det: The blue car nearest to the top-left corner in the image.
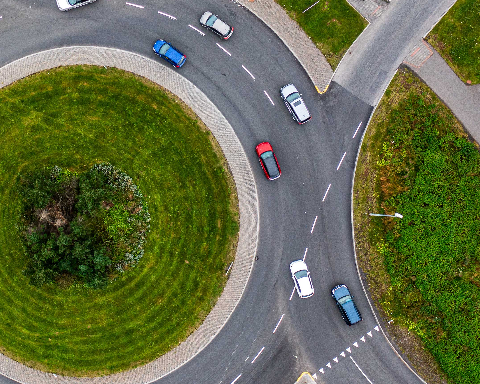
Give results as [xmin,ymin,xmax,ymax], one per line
[151,39,188,69]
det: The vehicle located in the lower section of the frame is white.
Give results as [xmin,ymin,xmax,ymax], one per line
[289,260,314,299]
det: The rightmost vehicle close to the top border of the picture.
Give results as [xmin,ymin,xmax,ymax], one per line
[199,11,235,40]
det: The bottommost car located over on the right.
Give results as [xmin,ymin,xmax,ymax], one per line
[332,284,363,327]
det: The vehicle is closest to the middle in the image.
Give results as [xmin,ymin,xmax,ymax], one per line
[256,141,283,182]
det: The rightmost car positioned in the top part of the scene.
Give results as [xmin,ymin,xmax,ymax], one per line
[280,82,312,124]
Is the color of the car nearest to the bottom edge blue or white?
blue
